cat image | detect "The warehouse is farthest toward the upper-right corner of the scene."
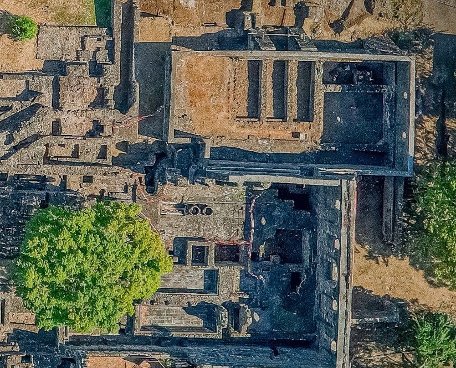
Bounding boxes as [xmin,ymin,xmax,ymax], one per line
[158,36,415,176]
